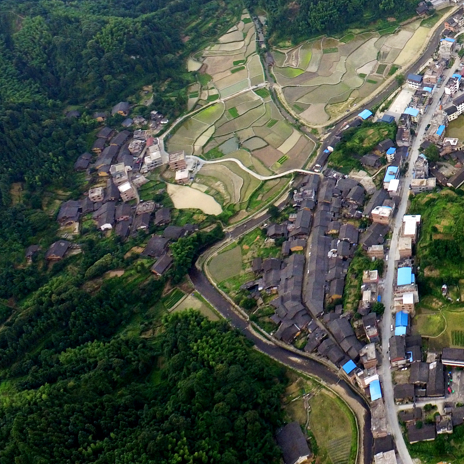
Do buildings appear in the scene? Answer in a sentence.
Yes, looking at the shot, I can spot a building.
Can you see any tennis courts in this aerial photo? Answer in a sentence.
No, I find no tennis court anywhere in the image.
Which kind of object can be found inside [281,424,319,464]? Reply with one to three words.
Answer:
house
